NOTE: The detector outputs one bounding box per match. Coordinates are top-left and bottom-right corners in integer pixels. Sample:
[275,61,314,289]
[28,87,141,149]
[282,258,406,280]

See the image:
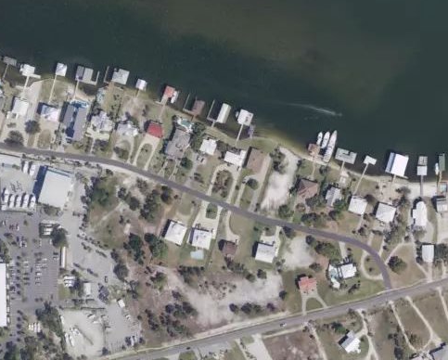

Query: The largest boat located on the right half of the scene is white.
[323,131,337,162]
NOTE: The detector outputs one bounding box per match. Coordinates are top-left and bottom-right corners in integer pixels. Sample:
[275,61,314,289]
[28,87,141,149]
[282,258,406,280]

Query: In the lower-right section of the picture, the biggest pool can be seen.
[327,263,340,286]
